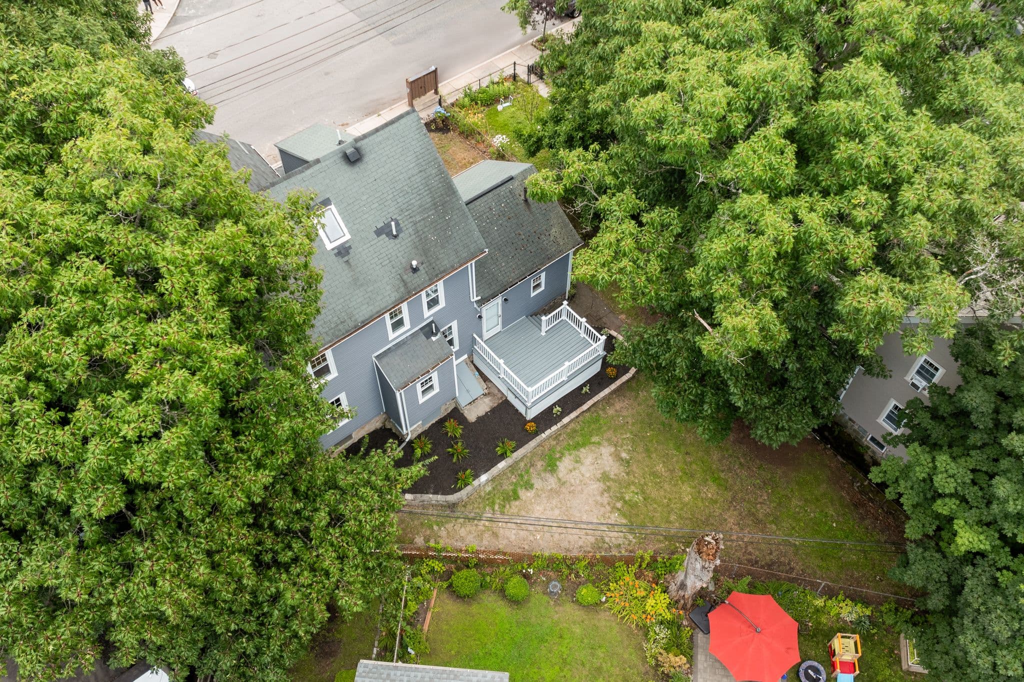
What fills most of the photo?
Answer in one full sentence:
The largest share of the image is taken up by trees.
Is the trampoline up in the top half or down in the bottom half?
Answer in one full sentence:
Seen from above, the trampoline lies in the bottom half of the view.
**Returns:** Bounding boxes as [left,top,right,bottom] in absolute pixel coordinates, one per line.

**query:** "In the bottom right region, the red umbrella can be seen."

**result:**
[688,591,802,682]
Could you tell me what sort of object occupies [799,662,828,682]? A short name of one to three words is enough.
trampoline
